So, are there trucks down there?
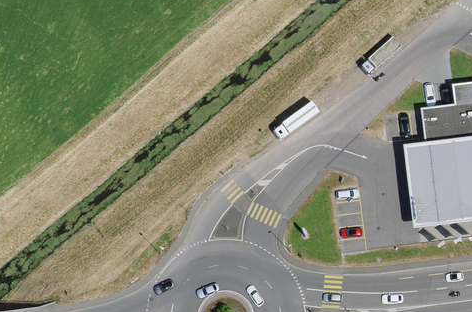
Yes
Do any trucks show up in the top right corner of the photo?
Yes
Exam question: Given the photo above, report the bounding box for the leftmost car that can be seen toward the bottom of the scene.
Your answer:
[153,278,175,294]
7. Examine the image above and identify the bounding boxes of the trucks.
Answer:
[272,100,320,143]
[361,37,401,76]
